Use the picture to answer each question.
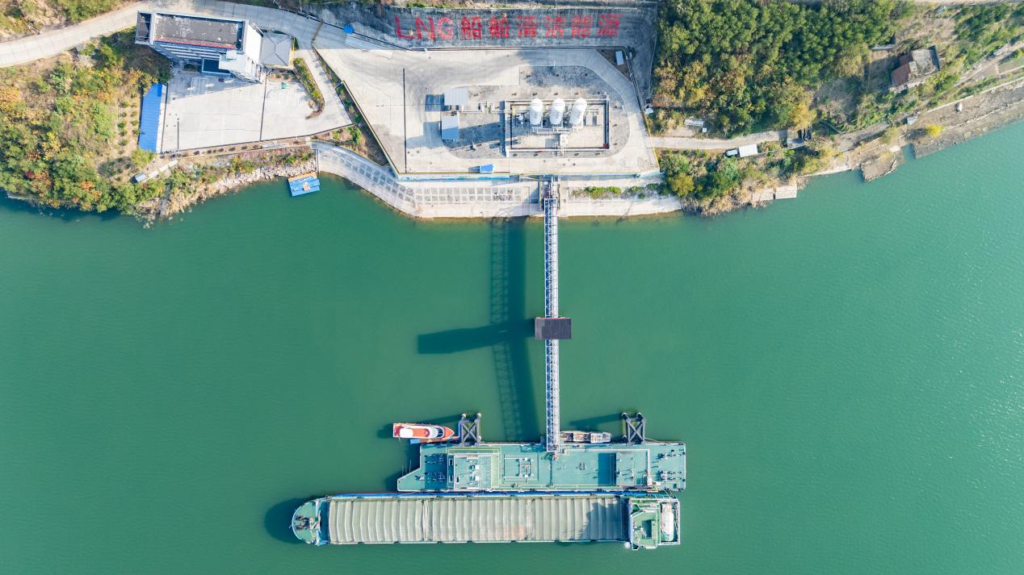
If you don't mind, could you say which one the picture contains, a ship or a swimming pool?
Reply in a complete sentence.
Of the two, only a ship appears.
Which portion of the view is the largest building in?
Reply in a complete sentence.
The largest building is located in the top left region of the scene.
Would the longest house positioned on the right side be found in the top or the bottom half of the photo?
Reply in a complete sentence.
The longest house positioned on the right side sits in the top half of the picture.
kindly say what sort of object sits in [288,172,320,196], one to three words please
pier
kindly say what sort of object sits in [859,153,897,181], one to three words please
pier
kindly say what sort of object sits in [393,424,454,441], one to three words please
boat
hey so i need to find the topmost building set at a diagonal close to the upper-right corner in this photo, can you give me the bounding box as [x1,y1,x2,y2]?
[879,45,942,92]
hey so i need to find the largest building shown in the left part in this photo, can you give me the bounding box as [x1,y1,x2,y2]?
[133,8,264,84]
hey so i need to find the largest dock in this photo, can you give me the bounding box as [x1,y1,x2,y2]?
[397,440,687,493]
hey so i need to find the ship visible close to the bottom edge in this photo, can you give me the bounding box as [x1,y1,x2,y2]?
[290,492,681,552]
